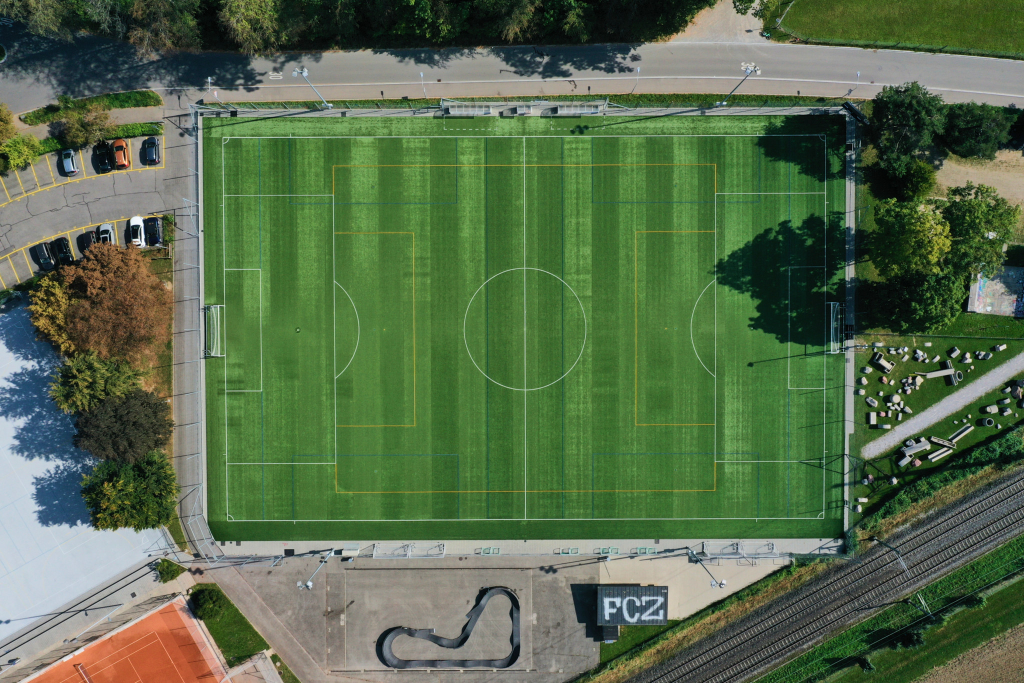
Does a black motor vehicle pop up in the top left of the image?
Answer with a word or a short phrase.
Yes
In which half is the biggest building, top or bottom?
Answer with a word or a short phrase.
bottom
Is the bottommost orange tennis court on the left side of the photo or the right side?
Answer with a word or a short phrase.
left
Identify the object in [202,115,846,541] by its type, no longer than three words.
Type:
soccer field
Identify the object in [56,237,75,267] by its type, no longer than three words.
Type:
car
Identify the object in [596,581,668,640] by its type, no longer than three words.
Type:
building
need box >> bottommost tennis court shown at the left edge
[18,595,232,683]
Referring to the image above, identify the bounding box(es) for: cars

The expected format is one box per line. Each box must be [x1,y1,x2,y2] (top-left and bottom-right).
[99,223,117,252]
[145,137,162,166]
[113,139,131,170]
[63,149,81,178]
[82,230,101,260]
[96,141,115,174]
[56,237,75,267]
[35,241,57,271]
[146,217,162,246]
[129,216,146,248]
